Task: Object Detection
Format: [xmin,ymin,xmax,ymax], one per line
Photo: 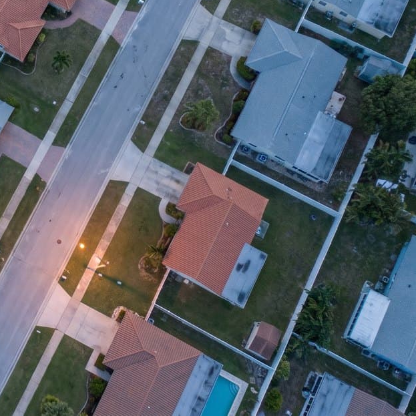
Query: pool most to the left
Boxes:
[201,374,241,416]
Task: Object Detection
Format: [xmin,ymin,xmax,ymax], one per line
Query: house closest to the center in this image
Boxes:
[161,162,268,309]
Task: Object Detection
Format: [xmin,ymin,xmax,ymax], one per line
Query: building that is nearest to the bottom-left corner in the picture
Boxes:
[90,310,223,416]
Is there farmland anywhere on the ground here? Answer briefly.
No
